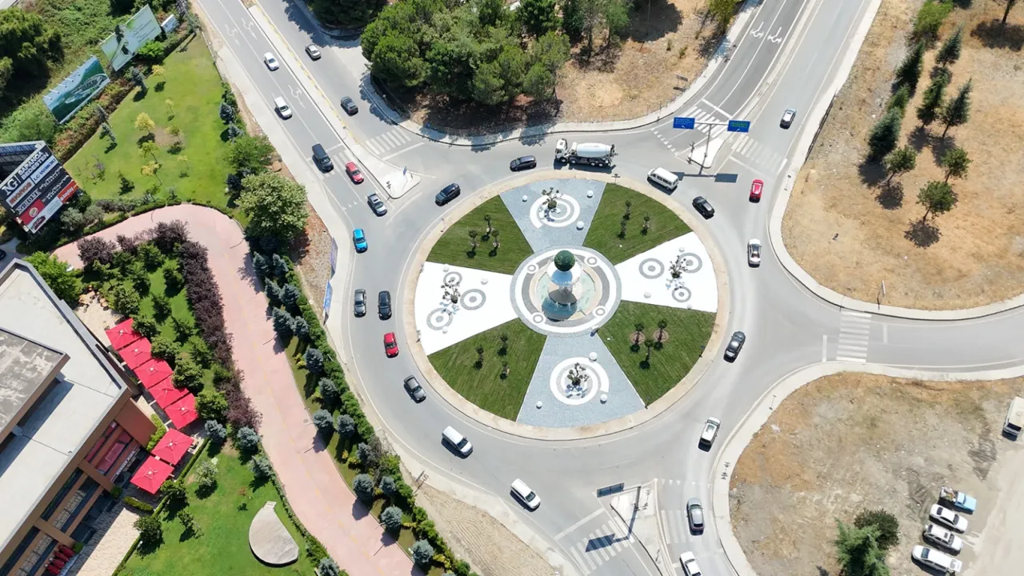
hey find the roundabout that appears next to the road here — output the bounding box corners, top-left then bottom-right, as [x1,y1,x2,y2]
[347,134,791,501]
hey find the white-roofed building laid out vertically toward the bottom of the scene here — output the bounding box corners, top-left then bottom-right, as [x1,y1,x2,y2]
[0,259,155,576]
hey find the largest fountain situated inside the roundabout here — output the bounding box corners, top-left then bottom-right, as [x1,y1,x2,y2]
[530,249,602,318]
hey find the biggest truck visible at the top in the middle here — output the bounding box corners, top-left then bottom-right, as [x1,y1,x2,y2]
[557,139,619,169]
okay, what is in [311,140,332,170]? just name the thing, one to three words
vehicle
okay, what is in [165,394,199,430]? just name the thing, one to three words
umbrella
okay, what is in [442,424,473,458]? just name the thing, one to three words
vehicle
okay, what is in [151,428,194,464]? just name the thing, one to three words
umbrella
